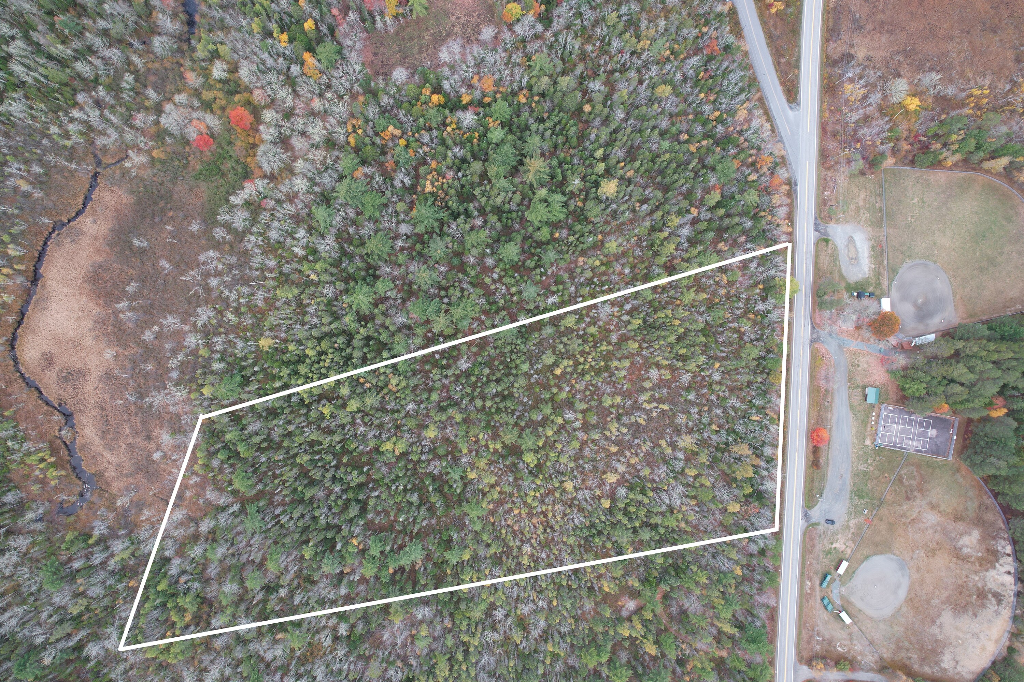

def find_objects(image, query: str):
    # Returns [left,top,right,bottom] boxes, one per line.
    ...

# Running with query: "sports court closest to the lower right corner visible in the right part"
[877,405,952,459]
